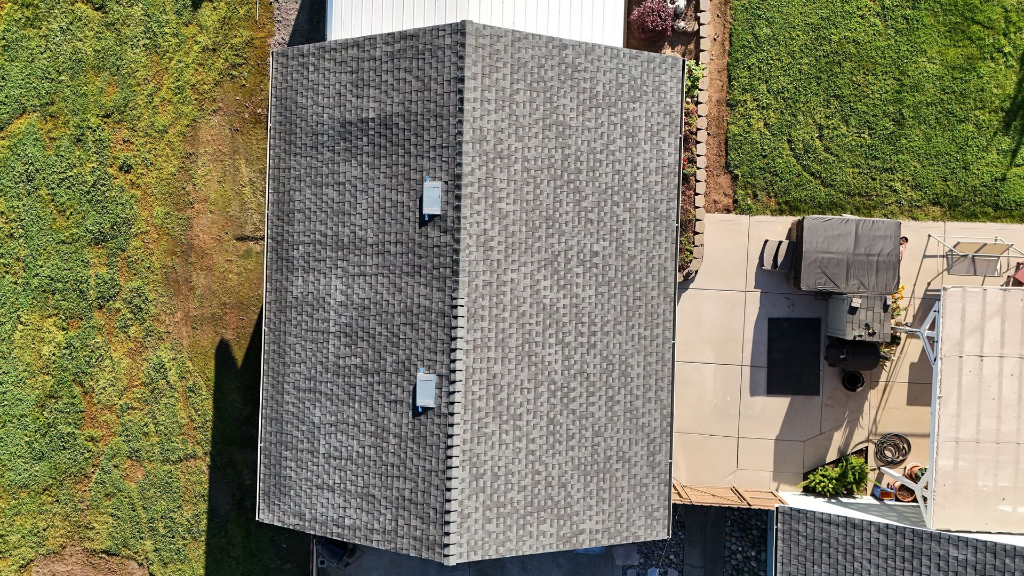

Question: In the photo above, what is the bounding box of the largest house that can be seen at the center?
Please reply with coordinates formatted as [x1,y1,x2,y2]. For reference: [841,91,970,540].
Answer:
[252,18,690,567]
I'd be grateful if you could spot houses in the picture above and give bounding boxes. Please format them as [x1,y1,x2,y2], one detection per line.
[764,494,1024,576]
[252,18,690,567]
